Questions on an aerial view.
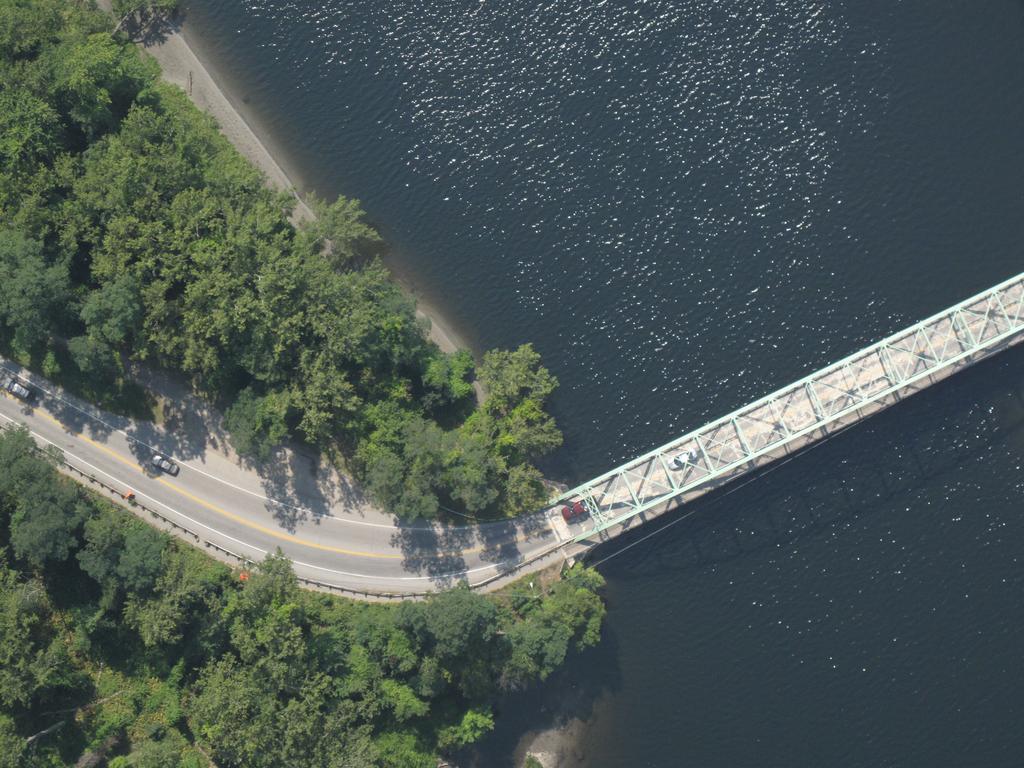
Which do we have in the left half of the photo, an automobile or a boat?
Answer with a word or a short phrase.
automobile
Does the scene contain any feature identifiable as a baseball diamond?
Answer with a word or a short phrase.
No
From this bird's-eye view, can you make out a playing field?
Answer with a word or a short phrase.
No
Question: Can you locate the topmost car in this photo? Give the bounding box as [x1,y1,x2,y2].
[0,375,32,398]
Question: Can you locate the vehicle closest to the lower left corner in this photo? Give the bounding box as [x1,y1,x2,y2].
[149,454,180,477]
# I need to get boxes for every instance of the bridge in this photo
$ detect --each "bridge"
[546,269,1024,567]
